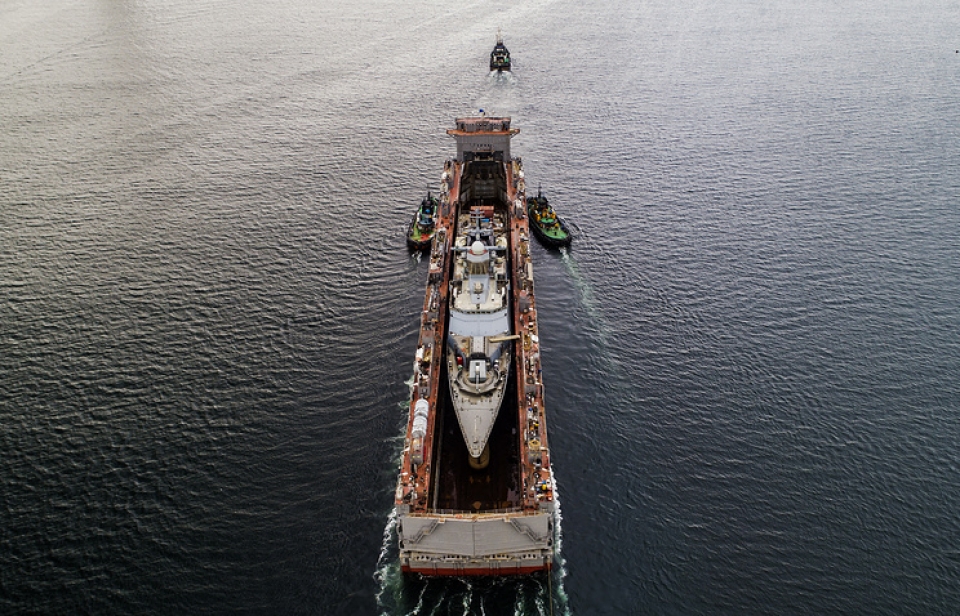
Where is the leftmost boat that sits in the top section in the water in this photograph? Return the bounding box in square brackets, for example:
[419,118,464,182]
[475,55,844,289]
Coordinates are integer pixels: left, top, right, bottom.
[406,178,437,250]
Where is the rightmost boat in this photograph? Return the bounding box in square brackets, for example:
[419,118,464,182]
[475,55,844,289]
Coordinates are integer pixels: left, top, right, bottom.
[525,187,572,251]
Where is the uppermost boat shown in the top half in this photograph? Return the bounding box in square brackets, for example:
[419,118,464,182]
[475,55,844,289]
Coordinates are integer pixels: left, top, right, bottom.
[489,32,512,72]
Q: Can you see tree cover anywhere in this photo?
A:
No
